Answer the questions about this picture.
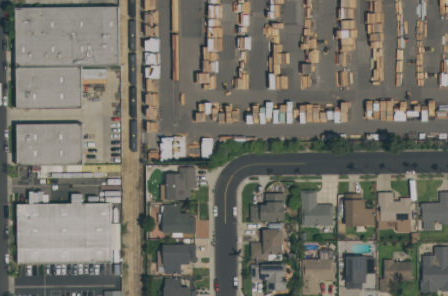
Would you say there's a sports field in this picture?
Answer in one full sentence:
No, no sports field is visible in the scene.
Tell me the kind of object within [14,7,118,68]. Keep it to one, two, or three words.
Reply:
building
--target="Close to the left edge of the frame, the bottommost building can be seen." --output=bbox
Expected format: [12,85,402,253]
[16,204,114,266]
